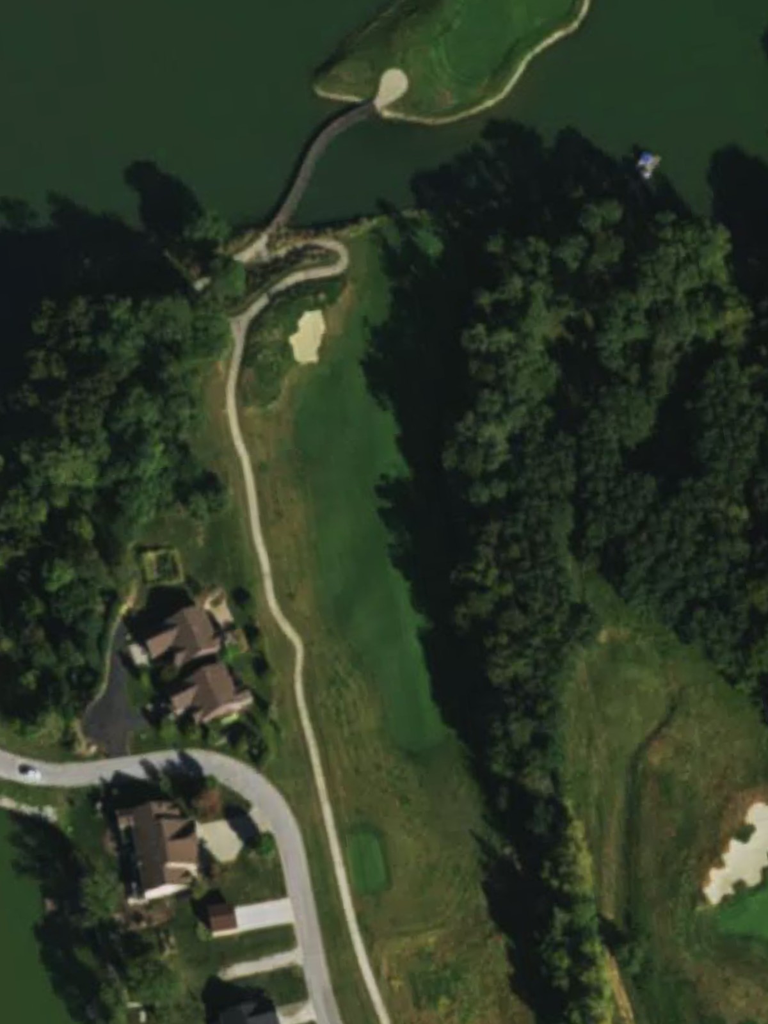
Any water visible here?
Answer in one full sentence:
Yes, the picture does contain water.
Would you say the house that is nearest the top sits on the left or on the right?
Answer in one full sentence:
You can find the house that is nearest the top on the left side of the picture.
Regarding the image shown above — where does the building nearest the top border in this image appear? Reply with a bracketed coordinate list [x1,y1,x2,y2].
[138,606,222,671]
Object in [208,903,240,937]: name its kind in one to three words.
building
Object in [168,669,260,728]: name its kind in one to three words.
house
